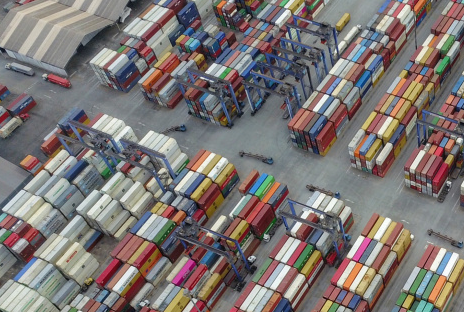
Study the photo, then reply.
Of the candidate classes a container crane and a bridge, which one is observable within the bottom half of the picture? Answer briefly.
container crane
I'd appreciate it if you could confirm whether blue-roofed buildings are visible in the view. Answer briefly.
No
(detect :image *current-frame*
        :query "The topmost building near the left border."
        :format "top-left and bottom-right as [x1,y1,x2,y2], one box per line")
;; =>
[0,0,152,76]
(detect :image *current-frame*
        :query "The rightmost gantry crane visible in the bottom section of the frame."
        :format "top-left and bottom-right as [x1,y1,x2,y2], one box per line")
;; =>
[277,197,349,266]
